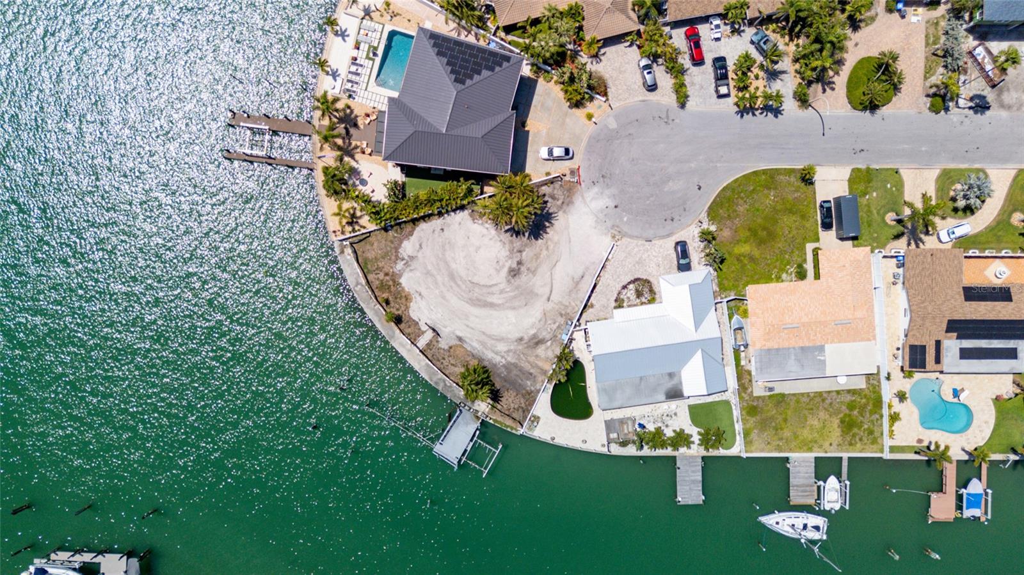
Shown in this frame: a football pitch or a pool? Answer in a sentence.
I can see a pool in this picture.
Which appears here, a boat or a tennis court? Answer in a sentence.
Visible in the photo is a boat.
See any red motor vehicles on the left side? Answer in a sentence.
No, no red motor vehicle is visible on the left side.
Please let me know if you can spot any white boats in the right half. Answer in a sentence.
Yes, the scene does show a white boat in the right half.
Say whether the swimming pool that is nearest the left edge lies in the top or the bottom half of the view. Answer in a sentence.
The top half of the photo is where the swimming pool that is nearest the left edge is.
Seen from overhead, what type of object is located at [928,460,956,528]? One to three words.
pier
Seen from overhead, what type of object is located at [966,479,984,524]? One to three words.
boat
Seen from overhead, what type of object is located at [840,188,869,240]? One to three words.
trailer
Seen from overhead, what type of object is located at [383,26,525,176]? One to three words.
house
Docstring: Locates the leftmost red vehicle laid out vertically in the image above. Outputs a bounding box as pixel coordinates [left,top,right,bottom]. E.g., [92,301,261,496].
[684,29,704,68]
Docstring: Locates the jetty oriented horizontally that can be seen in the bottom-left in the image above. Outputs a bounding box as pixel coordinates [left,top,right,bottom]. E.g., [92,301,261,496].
[39,548,149,575]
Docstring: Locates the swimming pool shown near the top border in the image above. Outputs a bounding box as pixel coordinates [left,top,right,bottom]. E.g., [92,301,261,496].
[372,26,416,94]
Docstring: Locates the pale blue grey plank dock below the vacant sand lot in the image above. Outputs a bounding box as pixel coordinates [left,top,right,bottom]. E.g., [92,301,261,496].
[431,407,482,472]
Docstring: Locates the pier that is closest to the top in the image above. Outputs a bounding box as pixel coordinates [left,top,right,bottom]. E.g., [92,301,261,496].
[225,108,313,135]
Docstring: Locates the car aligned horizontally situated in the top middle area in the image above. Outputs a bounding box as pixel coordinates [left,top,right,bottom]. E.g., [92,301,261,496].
[539,144,574,161]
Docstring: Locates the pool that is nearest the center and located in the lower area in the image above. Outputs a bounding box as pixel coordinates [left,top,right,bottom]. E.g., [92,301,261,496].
[548,357,595,422]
